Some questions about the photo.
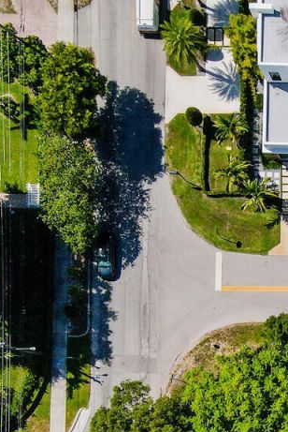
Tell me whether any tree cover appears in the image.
Yes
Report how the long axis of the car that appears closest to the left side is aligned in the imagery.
from top to bottom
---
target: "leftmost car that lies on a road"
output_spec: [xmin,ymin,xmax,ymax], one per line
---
[97,232,119,279]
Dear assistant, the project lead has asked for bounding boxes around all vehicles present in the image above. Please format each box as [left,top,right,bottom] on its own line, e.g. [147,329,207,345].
[128,0,157,32]
[97,232,119,279]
